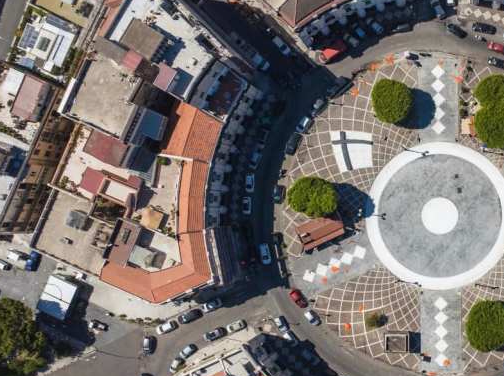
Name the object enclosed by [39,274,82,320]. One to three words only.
building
